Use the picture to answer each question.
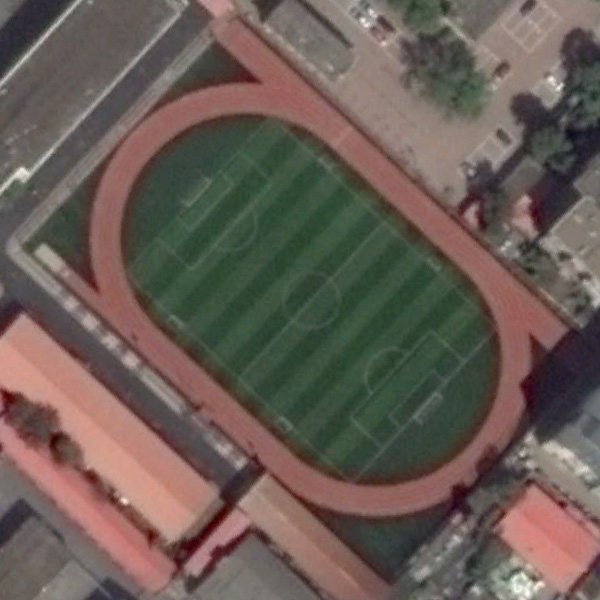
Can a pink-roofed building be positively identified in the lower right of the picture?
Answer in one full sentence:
Yes, a pink-roofed building shows up in the lower right of the picture.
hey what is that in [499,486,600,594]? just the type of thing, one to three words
house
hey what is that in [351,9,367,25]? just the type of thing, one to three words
car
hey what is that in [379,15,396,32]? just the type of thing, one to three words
vehicle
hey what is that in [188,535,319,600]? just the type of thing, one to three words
building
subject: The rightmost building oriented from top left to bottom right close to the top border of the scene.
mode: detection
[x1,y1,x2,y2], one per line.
[260,0,355,81]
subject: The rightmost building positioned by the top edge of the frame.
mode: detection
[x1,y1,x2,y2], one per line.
[419,0,514,45]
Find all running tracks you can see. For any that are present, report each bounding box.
[59,17,588,520]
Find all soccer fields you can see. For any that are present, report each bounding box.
[121,112,496,487]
